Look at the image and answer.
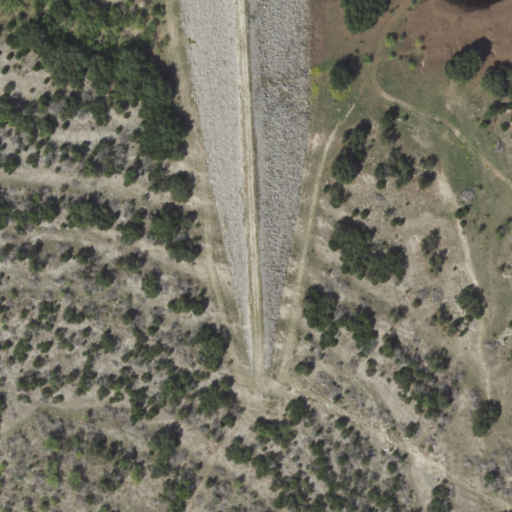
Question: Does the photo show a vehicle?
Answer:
No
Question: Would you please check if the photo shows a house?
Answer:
No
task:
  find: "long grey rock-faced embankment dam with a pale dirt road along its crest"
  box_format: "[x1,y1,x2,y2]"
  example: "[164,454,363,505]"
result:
[182,0,312,380]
